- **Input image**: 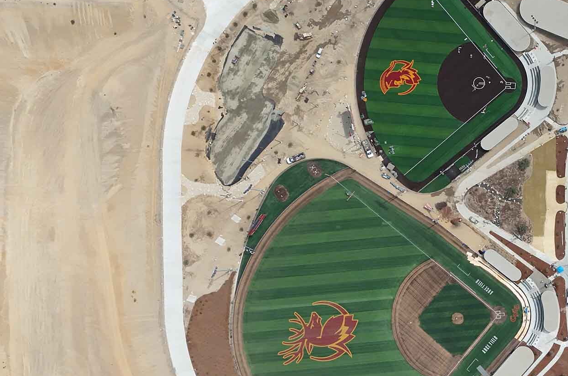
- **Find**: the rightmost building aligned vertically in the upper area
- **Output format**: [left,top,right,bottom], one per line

[538,66,557,107]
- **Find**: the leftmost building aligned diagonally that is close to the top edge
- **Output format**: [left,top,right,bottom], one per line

[483,1,530,51]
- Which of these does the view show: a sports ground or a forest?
sports ground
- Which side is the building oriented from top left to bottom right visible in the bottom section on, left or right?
right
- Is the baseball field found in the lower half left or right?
right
